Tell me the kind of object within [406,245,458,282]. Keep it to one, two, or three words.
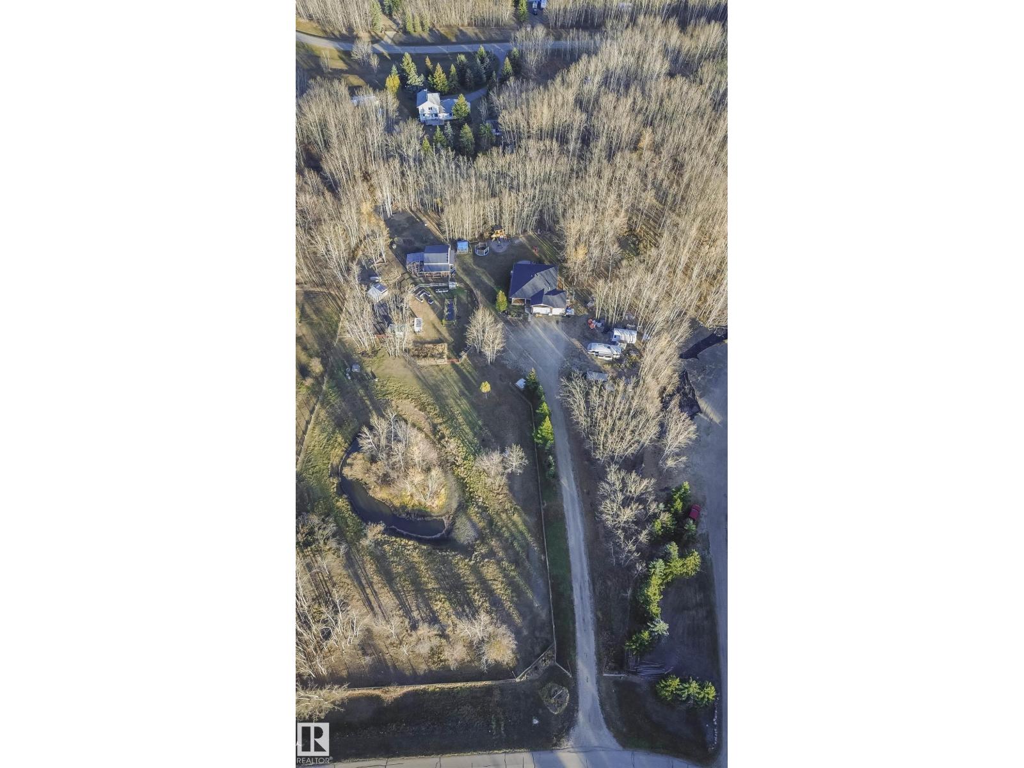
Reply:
barn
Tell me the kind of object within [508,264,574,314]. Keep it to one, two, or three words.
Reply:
house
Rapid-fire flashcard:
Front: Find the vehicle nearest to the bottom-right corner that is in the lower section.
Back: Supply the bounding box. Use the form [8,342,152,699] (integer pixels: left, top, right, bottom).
[689,500,702,525]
